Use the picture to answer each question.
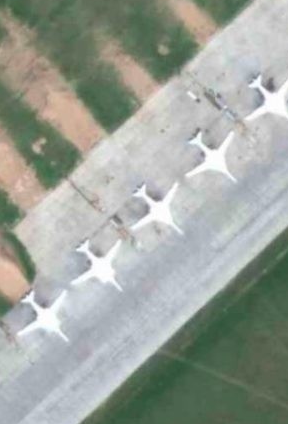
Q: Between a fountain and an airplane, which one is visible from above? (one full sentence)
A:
I can see an airplane in this picture.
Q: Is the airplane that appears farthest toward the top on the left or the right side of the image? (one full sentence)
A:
The airplane that appears farthest toward the top appears in the right half of the scene.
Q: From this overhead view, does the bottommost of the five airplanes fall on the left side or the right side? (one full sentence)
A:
The bottommost of the five airplanes appears in the left half of the scene.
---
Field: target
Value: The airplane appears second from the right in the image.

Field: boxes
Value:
[185,129,237,182]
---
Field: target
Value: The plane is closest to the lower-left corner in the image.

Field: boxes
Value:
[16,289,69,341]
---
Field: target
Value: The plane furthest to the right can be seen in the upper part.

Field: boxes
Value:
[244,75,288,119]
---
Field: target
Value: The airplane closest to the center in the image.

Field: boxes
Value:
[131,182,183,234]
